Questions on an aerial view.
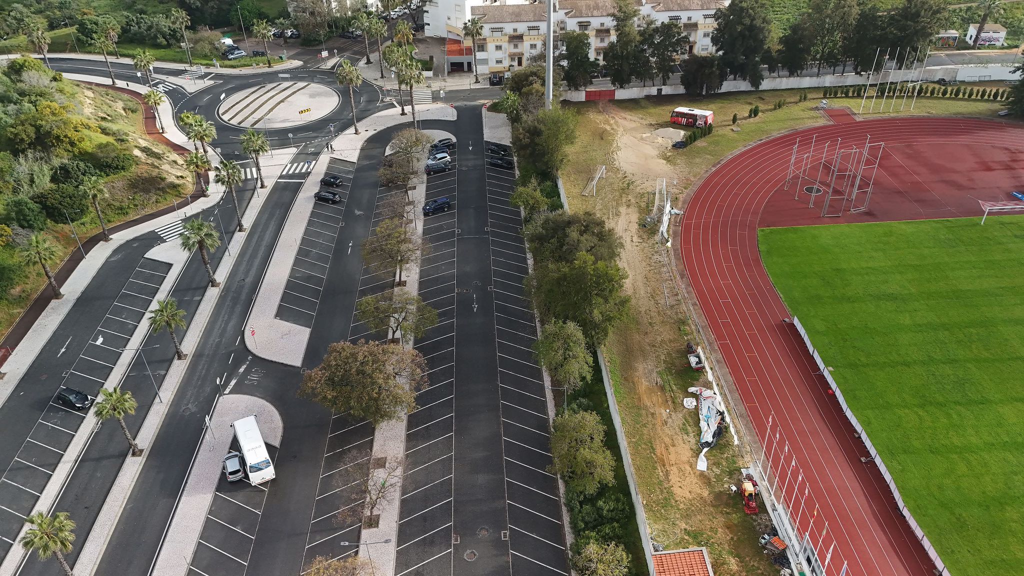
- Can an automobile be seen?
Yes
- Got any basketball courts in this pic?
No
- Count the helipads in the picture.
0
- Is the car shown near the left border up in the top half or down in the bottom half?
bottom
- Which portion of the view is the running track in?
right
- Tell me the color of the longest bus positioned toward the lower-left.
white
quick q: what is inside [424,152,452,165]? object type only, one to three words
vehicle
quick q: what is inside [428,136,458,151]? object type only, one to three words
car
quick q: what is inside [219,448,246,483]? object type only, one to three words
car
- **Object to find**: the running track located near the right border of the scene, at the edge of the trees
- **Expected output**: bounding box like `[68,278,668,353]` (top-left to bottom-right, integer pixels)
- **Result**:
[667,106,1024,576]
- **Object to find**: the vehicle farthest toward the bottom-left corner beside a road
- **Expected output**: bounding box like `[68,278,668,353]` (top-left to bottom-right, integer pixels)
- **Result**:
[50,384,93,411]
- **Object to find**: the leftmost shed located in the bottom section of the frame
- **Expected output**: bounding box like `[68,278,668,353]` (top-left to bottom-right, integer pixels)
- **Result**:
[651,545,716,576]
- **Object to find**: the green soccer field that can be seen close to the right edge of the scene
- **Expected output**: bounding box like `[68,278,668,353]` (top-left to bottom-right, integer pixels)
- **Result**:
[762,214,1024,576]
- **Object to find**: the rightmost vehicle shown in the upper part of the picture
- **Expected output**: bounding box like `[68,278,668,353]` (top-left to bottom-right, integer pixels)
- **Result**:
[667,103,714,127]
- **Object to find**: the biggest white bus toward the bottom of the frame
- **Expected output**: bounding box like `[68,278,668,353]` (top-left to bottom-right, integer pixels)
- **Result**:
[229,413,280,491]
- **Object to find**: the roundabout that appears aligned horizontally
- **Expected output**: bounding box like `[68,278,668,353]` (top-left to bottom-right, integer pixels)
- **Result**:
[218,81,338,128]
